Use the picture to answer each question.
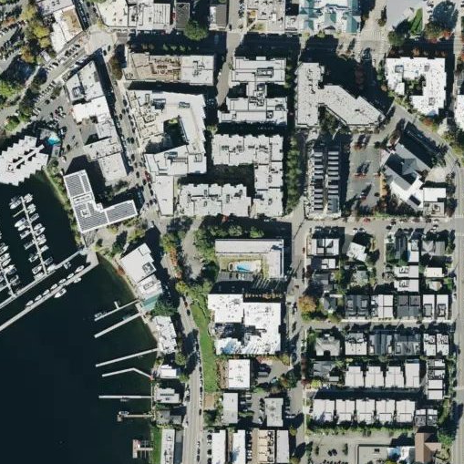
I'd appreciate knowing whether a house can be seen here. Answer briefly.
Yes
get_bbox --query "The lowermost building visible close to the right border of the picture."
[398,433,442,464]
